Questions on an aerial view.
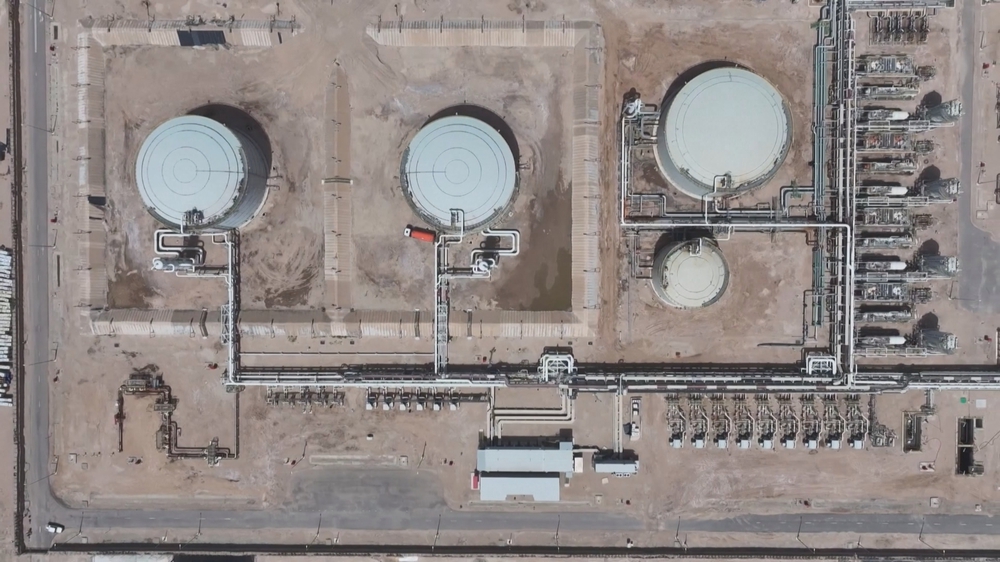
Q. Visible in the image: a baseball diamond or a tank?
tank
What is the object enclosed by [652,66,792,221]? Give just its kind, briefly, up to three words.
storage tank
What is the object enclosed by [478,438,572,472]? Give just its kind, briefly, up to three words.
building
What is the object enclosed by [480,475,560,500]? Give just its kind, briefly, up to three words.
building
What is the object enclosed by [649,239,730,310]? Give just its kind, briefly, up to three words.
storage tank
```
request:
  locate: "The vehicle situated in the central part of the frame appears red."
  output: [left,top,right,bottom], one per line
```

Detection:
[403,227,436,241]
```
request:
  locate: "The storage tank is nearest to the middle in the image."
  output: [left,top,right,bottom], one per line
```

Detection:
[398,114,521,238]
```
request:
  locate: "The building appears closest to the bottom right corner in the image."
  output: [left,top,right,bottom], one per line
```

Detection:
[594,456,636,473]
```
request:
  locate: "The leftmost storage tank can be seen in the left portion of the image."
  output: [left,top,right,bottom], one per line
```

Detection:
[134,114,271,235]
